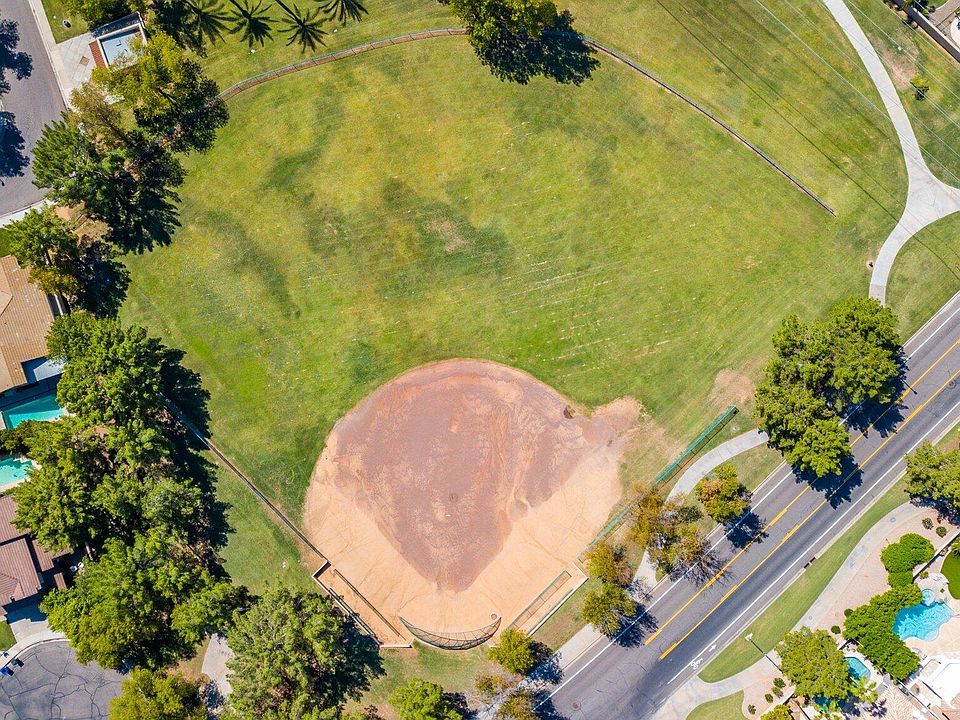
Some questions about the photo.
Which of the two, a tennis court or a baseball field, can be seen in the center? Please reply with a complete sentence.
Looking in the center, you will find a baseball field.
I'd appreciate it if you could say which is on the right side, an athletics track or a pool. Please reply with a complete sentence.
The one visible on the right side is a pool.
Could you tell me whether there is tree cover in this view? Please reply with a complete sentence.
Yes, some tree cover is visible.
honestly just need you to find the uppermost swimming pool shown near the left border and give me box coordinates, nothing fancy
[0,390,65,430]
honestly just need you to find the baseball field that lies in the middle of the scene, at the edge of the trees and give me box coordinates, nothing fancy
[121,32,832,650]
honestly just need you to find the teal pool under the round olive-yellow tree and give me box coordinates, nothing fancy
[810,652,873,718]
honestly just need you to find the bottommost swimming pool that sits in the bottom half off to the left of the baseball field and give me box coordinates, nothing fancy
[0,454,35,488]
